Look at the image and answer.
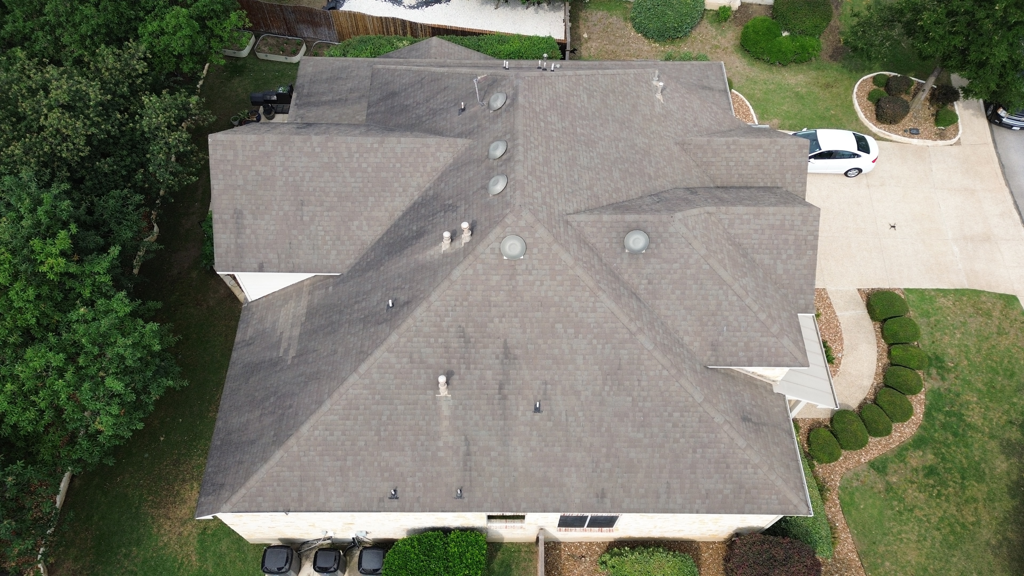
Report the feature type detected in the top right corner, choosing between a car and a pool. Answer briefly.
car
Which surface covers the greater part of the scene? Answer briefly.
buildings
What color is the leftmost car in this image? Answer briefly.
white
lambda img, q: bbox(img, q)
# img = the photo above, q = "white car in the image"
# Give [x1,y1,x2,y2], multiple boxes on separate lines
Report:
[784,122,883,181]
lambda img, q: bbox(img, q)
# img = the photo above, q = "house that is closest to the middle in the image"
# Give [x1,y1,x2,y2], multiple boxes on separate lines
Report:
[197,37,841,556]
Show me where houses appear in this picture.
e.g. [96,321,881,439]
[197,37,841,556]
[702,0,774,10]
